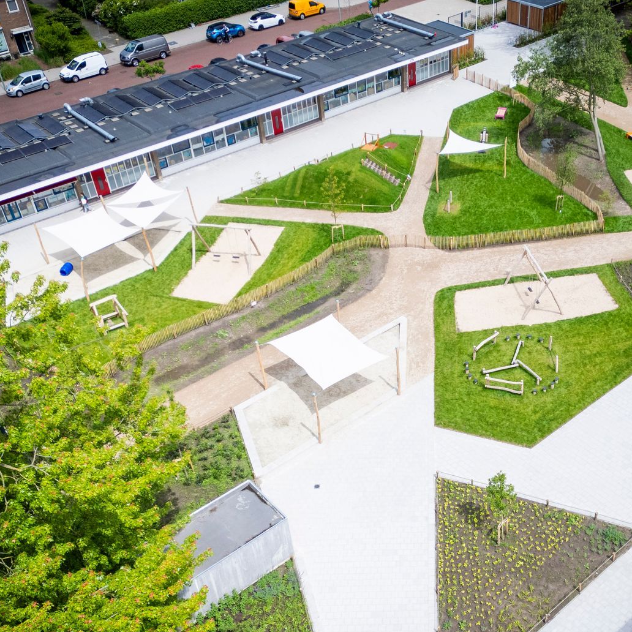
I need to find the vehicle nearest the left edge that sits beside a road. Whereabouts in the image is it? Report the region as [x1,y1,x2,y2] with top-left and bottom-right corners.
[3,65,53,94]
